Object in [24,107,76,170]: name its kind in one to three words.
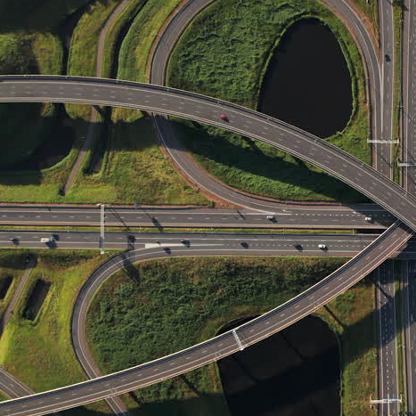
pond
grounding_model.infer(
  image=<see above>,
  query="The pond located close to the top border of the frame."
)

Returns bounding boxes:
[256,14,354,139]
